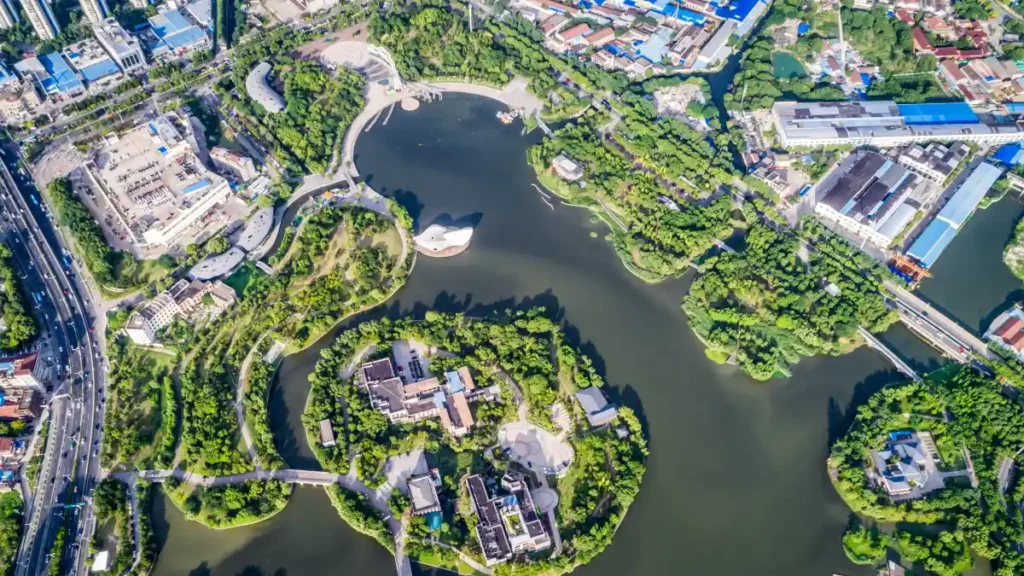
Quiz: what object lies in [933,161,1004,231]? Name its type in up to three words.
shed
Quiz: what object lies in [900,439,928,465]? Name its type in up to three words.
house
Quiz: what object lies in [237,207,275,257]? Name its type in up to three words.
building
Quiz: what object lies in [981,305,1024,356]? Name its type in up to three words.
house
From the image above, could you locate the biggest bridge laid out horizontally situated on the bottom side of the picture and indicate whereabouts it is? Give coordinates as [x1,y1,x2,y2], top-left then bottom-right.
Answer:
[280,468,343,484]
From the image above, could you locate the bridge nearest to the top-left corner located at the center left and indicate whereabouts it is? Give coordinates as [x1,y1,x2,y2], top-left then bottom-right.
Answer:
[0,155,87,334]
